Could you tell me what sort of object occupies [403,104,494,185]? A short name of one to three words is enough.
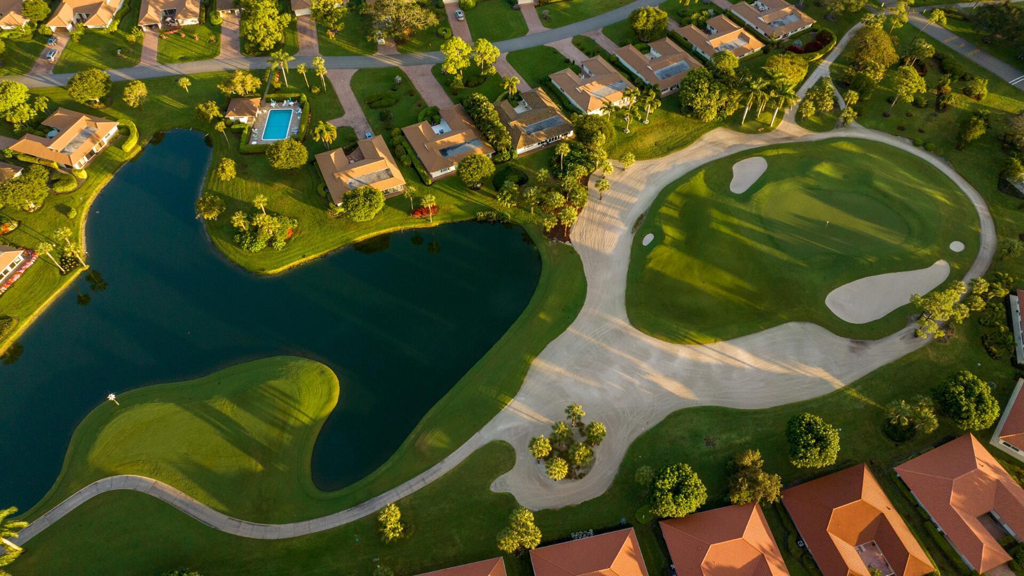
house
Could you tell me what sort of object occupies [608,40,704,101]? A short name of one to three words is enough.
house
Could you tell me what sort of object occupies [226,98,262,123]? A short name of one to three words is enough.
building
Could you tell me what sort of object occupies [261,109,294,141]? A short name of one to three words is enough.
swimming pool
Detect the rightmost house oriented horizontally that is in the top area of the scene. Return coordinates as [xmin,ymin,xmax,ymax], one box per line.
[725,0,816,43]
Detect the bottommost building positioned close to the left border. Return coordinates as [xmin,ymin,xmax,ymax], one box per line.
[0,239,33,290]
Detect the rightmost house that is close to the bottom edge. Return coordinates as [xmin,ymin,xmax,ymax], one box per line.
[893,433,1024,576]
